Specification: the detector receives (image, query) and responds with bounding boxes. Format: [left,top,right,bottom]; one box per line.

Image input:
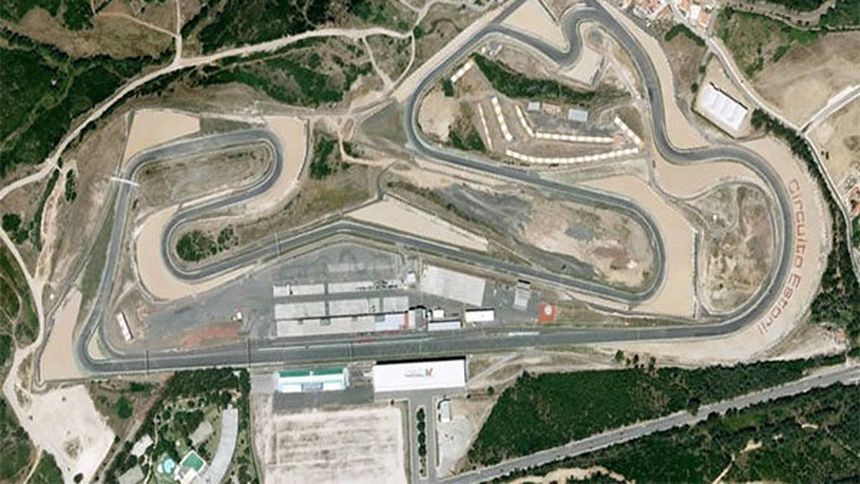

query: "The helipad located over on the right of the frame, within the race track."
[538,302,556,321]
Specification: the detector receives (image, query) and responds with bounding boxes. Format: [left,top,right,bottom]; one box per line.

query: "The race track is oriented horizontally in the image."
[39,0,831,381]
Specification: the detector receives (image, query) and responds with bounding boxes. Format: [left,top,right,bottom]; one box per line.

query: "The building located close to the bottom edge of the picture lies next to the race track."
[197,404,239,484]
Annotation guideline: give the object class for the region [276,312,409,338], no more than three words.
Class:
building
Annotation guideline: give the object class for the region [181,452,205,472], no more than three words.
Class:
swimming pool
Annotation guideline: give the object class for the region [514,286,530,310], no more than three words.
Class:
building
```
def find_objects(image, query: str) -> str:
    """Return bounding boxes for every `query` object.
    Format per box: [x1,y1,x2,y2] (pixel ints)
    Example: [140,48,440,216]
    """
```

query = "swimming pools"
[165,460,174,473]
[181,452,205,472]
